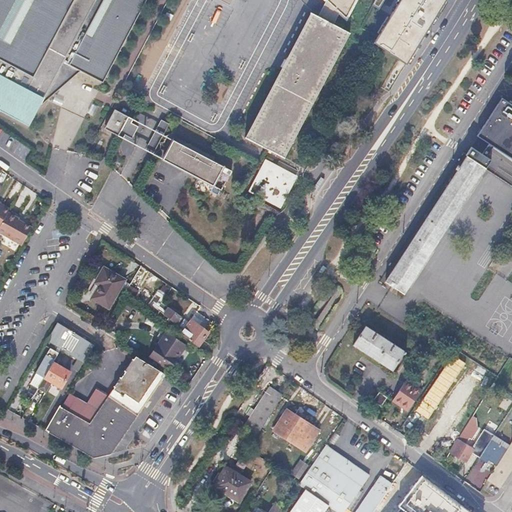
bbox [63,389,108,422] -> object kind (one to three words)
shed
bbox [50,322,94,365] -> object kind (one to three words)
building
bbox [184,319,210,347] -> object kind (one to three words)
house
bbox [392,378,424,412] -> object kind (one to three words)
house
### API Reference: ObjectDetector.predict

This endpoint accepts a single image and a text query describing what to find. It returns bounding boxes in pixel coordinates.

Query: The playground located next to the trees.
[372,156,512,355]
